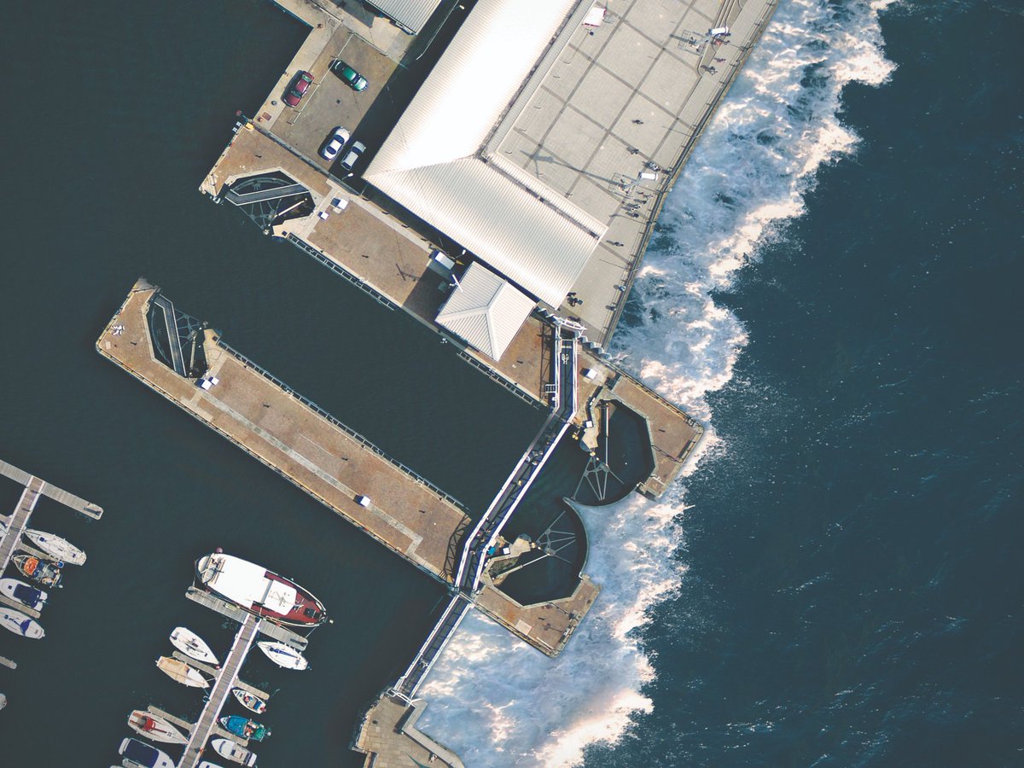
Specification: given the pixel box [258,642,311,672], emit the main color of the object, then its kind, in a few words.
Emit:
white boat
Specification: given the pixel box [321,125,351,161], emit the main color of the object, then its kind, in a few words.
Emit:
white car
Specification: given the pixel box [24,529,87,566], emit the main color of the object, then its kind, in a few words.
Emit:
white boat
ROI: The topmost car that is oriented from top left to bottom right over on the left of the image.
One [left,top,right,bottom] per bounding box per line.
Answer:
[331,58,366,90]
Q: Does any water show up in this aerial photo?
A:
Yes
